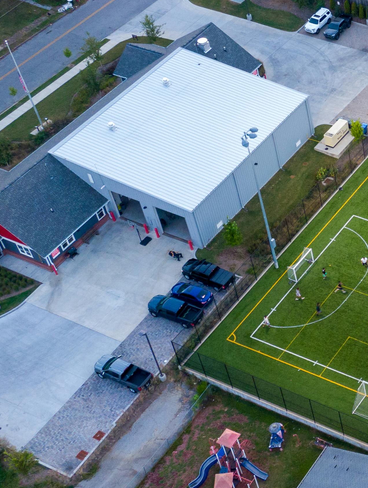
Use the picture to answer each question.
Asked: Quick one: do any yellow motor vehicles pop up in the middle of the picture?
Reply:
No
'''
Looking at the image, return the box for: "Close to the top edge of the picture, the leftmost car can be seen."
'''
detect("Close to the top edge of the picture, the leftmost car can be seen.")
[308,8,331,31]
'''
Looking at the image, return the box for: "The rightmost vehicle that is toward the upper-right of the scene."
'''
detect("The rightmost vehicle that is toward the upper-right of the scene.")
[325,12,350,38]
